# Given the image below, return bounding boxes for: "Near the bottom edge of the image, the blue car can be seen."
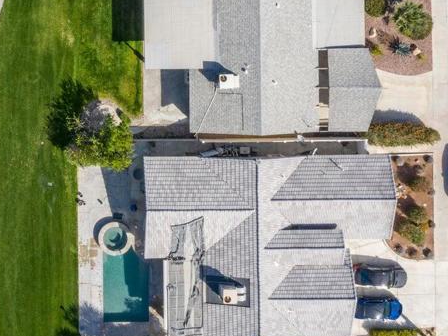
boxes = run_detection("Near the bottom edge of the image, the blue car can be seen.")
[354,295,402,323]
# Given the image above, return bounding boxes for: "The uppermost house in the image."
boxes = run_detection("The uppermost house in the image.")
[140,0,381,135]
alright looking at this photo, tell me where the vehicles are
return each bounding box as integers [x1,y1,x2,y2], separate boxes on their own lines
[351,262,407,290]
[354,295,402,323]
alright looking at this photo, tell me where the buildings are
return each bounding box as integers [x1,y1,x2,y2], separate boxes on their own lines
[140,0,381,135]
[143,155,397,336]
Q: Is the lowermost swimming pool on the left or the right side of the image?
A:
left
